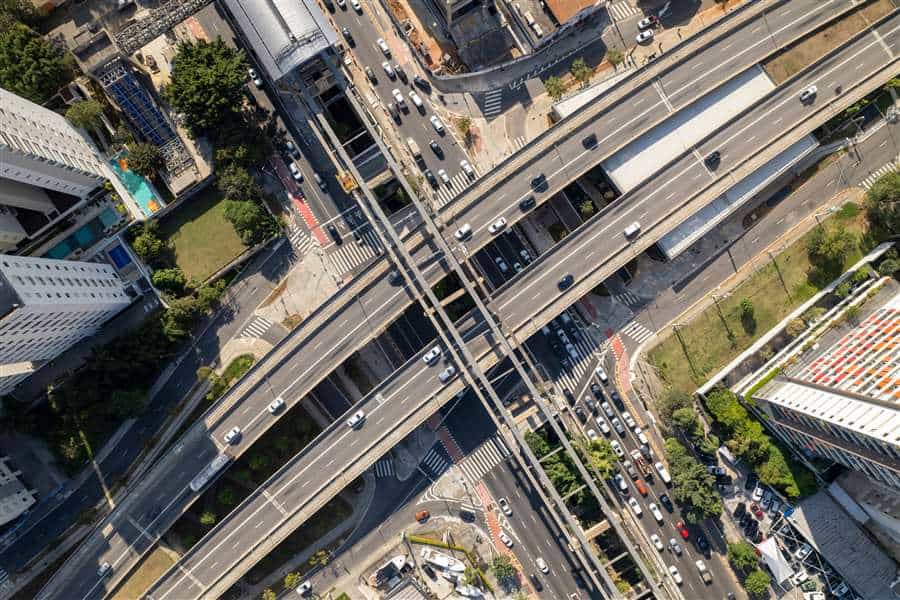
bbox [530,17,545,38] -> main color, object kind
white vehicle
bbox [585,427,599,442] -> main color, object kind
white vehicle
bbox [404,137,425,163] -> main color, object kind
white truck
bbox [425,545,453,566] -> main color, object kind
white boat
